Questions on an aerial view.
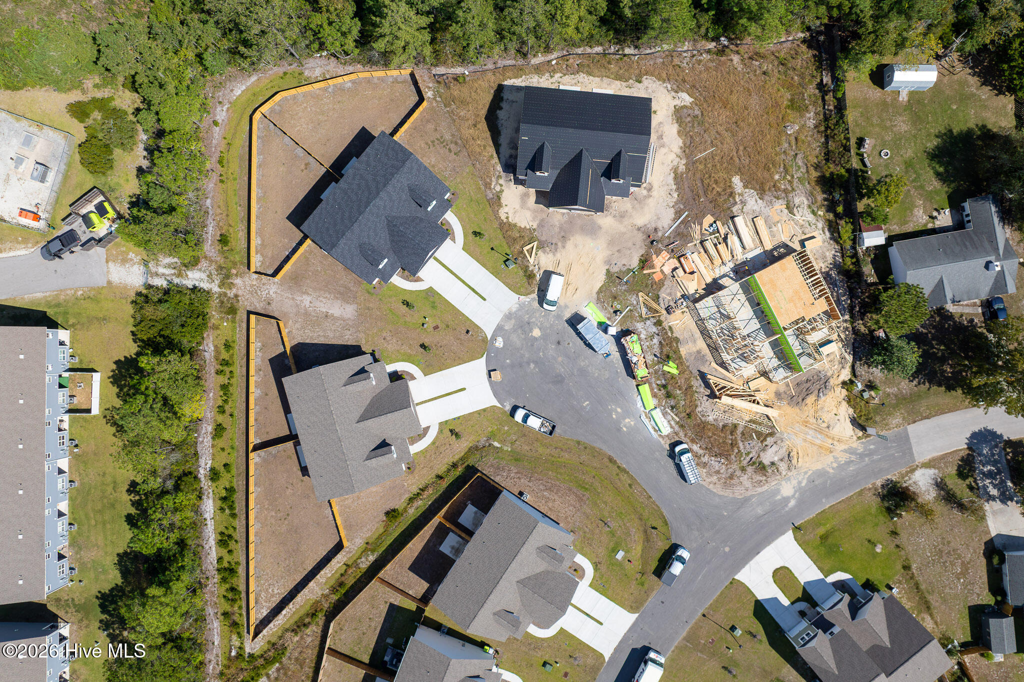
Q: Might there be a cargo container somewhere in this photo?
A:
Yes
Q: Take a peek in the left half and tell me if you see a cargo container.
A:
No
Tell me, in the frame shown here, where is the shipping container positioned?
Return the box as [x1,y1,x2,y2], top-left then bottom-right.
[620,334,652,381]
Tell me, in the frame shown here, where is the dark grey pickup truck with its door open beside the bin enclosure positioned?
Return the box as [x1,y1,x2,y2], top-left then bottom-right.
[43,230,84,260]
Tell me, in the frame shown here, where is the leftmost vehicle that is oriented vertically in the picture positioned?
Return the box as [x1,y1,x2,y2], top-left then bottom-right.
[542,270,565,313]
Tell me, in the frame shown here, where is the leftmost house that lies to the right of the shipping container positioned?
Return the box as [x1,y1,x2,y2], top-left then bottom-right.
[692,247,842,384]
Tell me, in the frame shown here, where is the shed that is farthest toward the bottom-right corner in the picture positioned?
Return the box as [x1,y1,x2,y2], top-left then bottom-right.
[983,618,1018,661]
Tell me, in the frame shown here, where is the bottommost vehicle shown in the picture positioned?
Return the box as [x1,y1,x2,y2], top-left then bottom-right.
[634,649,664,682]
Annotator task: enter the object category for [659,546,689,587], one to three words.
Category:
truck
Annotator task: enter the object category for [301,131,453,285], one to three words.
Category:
house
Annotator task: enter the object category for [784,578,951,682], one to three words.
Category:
house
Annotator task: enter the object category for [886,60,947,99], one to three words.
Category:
shed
